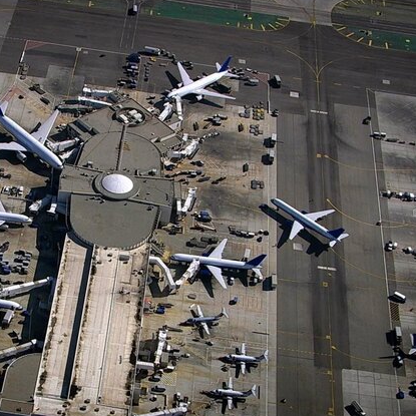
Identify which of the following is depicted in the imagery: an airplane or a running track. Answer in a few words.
airplane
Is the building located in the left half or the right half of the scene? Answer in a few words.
left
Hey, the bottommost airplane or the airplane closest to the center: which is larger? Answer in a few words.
the airplane closest to the center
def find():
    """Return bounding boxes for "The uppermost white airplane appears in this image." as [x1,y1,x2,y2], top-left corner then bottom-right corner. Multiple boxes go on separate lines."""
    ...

[166,57,241,102]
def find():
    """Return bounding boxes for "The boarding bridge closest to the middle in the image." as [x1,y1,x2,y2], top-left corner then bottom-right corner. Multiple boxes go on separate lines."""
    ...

[180,188,196,220]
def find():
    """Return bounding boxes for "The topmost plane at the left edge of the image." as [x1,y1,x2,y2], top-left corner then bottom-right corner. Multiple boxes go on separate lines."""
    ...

[0,100,63,170]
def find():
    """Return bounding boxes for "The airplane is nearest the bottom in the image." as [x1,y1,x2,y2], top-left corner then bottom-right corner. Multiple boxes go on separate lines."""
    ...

[199,373,260,410]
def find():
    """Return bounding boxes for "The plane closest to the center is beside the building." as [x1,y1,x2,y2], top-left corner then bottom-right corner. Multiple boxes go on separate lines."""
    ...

[170,238,266,287]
